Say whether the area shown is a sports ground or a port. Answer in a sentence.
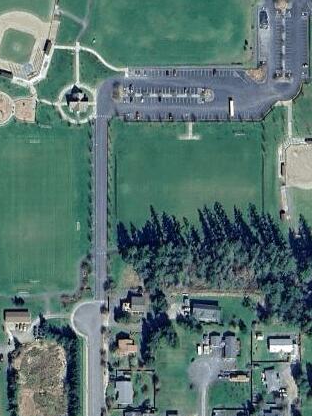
It's a sports ground.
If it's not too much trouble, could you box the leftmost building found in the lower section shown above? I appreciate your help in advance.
[4,311,29,323]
